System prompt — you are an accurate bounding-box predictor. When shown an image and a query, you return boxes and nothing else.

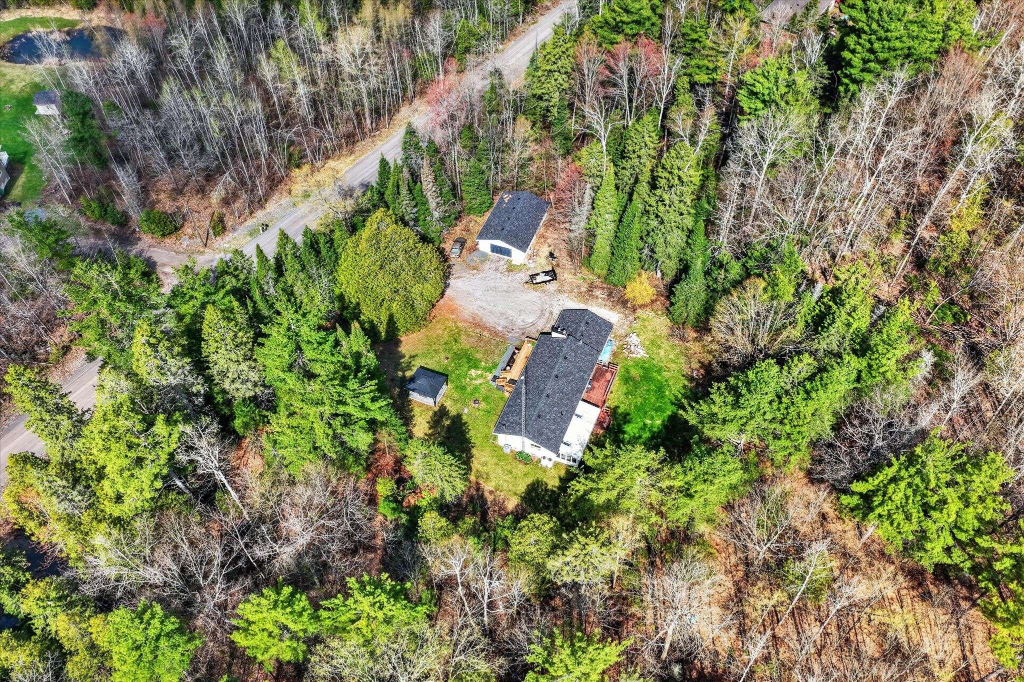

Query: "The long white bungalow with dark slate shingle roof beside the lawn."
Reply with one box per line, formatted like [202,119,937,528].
[494,311,613,469]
